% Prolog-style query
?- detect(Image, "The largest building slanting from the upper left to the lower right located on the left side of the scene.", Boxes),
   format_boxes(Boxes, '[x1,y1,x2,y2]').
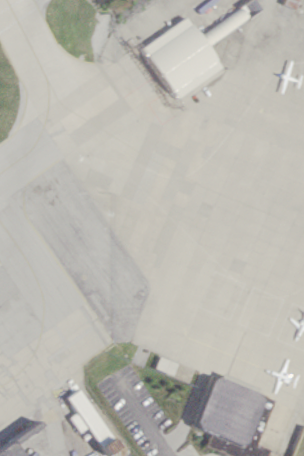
[66,390,116,442]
